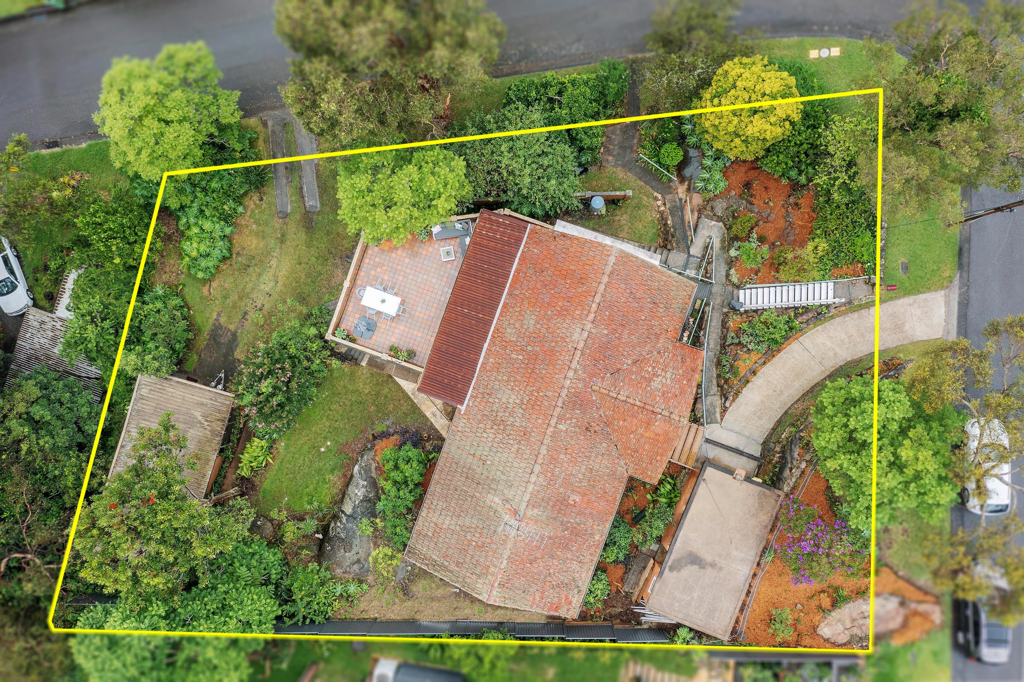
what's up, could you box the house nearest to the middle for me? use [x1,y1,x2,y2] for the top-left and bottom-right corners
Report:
[402,208,706,621]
